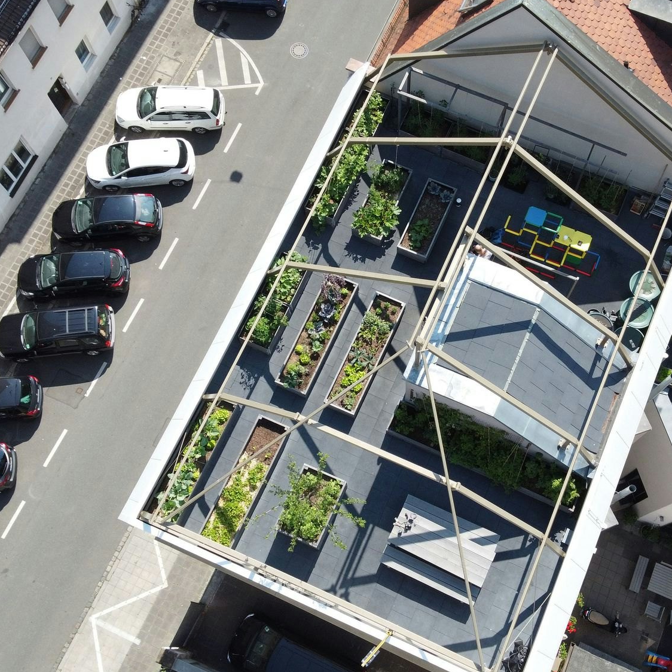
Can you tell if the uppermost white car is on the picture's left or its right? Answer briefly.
left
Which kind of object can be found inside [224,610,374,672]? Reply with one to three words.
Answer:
van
